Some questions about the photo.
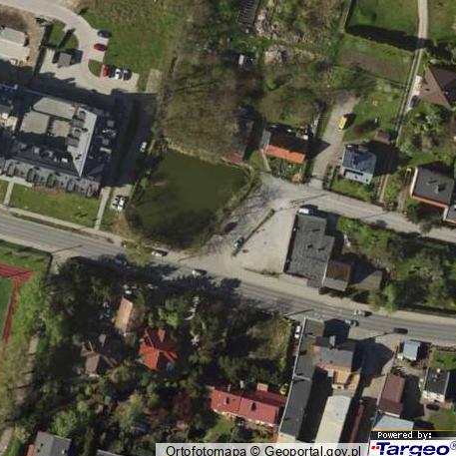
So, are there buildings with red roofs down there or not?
Yes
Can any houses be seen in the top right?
Yes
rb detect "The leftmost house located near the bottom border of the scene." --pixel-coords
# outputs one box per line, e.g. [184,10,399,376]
[33,432,72,456]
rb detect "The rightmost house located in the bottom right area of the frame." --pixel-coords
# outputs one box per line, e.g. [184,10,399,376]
[424,367,452,396]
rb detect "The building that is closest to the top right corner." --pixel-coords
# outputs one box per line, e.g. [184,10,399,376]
[419,66,456,108]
